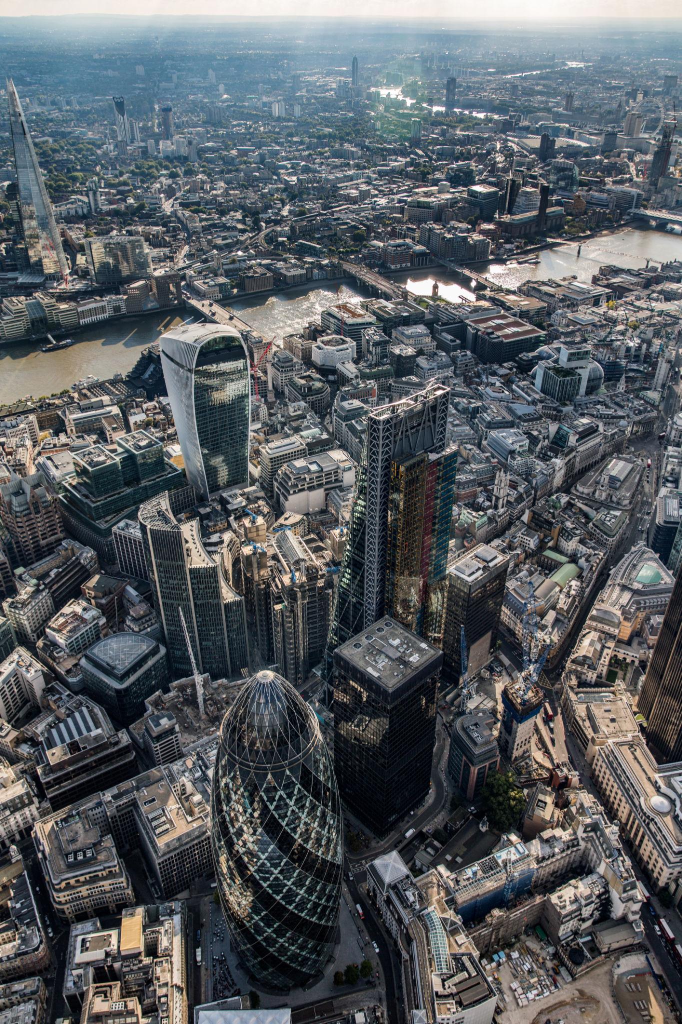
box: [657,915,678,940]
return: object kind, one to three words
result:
bus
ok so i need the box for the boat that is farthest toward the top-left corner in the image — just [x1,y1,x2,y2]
[35,338,78,351]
